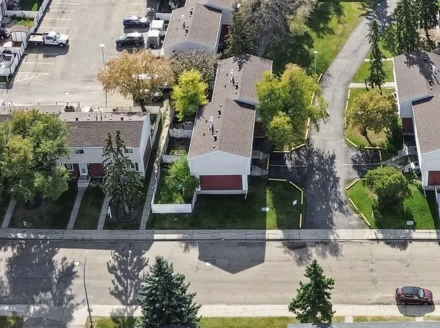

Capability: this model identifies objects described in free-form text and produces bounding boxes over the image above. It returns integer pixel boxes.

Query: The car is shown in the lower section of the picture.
[393,286,437,308]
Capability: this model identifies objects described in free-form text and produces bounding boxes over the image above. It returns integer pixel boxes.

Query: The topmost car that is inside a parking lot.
[121,15,149,29]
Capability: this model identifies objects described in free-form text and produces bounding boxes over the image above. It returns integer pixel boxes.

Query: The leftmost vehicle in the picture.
[30,33,68,48]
